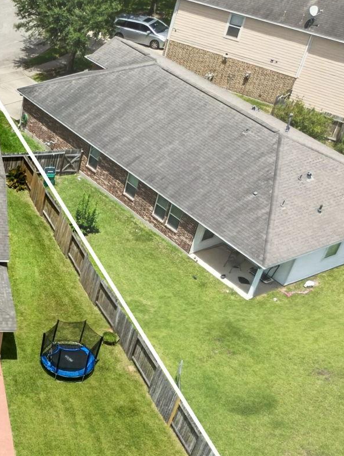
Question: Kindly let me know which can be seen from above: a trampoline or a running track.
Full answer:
I can see a trampoline in this picture.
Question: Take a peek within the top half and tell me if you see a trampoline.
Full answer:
No, there is no trampoline within the top half.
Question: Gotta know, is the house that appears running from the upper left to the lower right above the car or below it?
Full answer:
As seen from overhead, the house that appears running from the upper left to the lower right falls below the car in the picture.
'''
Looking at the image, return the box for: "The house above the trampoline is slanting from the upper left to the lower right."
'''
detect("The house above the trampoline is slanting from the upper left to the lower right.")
[17,40,344,303]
